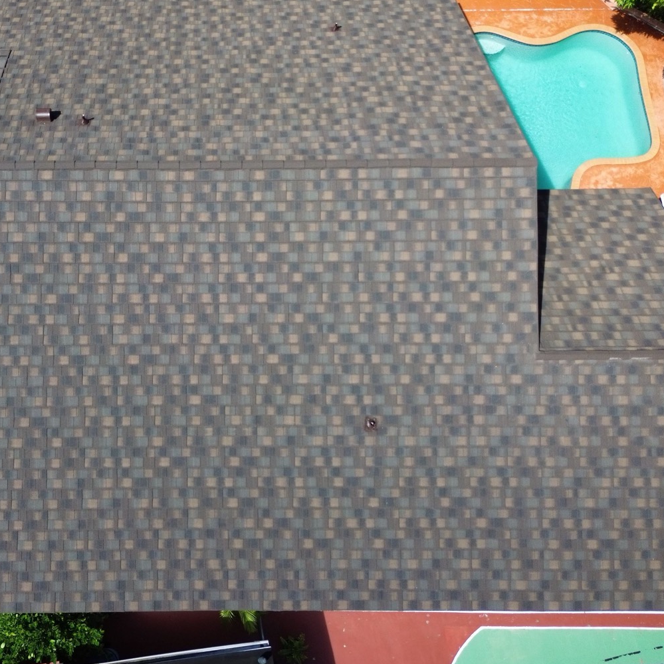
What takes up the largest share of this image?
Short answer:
buildings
